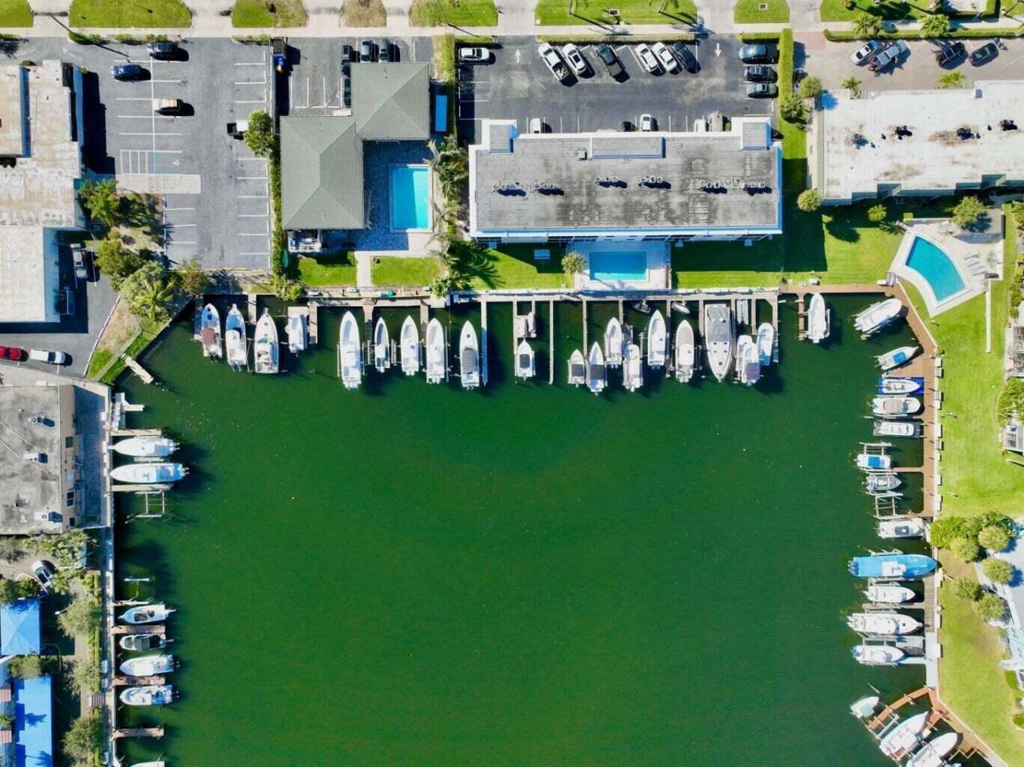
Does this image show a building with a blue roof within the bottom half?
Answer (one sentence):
Yes, a building with a blue roof appears within the bottom half.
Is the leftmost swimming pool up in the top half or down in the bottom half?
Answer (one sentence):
The leftmost swimming pool sits in the top half of the picture.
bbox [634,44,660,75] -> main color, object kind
white car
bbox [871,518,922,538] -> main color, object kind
white boat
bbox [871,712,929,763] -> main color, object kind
white boat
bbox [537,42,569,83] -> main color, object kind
white truck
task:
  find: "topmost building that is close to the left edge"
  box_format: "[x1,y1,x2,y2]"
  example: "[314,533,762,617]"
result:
[0,60,91,231]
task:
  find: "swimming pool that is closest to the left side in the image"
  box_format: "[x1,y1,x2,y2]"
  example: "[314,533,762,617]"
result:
[389,165,433,232]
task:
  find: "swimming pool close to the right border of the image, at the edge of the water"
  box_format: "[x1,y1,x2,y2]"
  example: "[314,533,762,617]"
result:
[891,209,1003,318]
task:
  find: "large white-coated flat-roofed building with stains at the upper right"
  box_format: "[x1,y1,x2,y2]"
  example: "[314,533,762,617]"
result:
[809,79,1024,207]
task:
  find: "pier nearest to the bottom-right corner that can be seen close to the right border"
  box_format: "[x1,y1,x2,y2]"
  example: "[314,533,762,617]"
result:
[941,712,1007,767]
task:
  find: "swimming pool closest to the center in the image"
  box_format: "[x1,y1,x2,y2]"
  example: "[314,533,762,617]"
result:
[574,242,670,290]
